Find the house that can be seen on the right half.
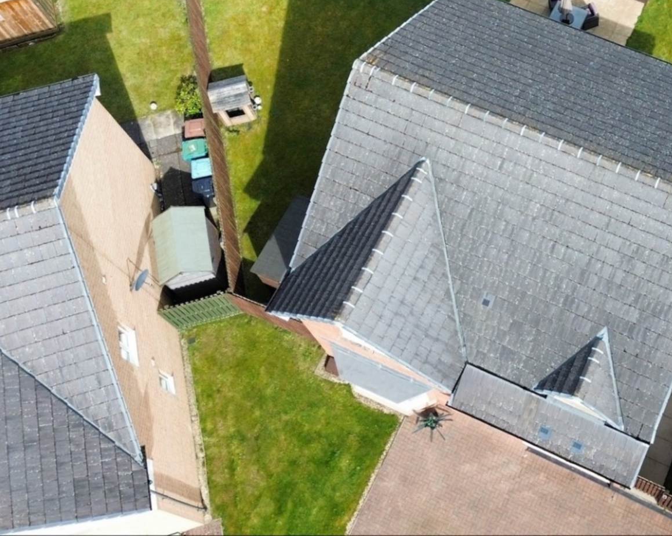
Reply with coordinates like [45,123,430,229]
[265,0,672,491]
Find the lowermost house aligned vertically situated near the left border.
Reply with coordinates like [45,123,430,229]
[0,74,208,536]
